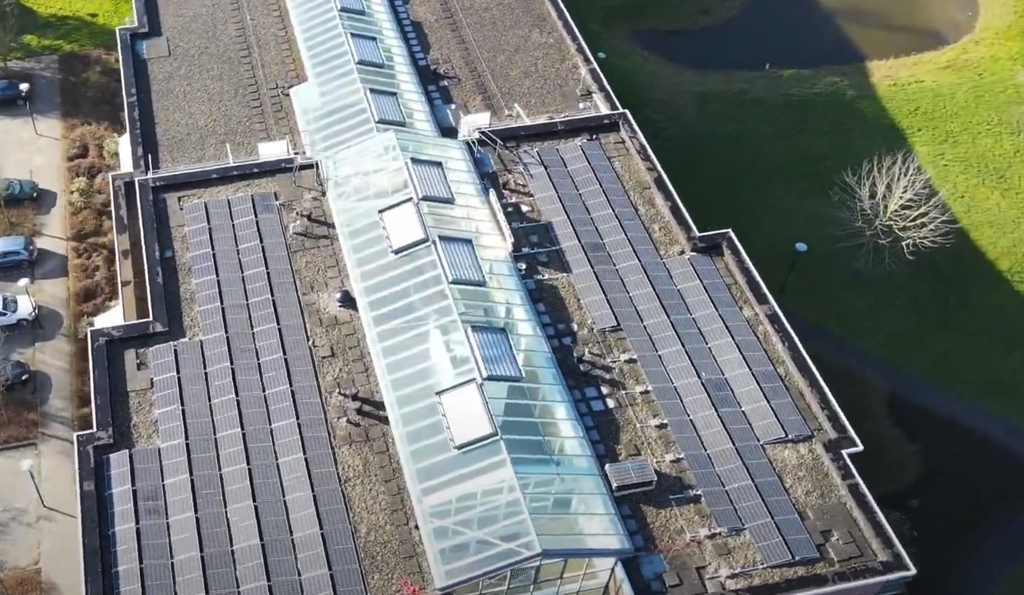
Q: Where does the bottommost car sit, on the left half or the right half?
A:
left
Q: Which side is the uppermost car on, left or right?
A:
left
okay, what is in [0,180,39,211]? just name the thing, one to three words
car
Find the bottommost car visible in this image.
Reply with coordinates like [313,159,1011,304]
[0,362,34,400]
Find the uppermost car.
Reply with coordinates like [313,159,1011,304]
[0,81,30,109]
